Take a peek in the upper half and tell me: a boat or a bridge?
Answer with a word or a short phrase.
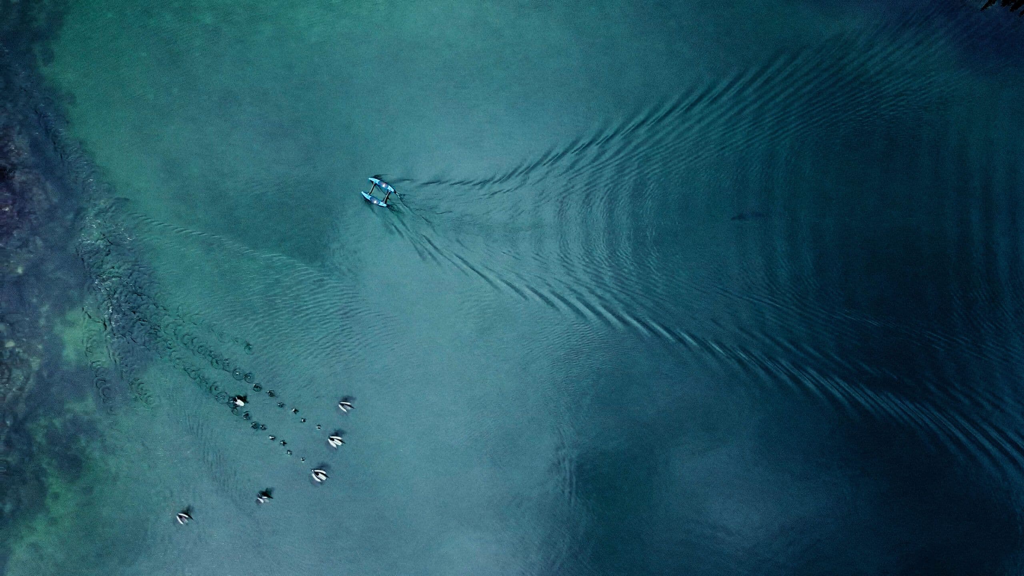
boat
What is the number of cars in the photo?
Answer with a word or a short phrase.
zero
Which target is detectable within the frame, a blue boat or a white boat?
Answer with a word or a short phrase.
blue boat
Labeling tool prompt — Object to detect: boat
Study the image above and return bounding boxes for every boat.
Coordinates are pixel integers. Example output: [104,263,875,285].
[361,177,400,206]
